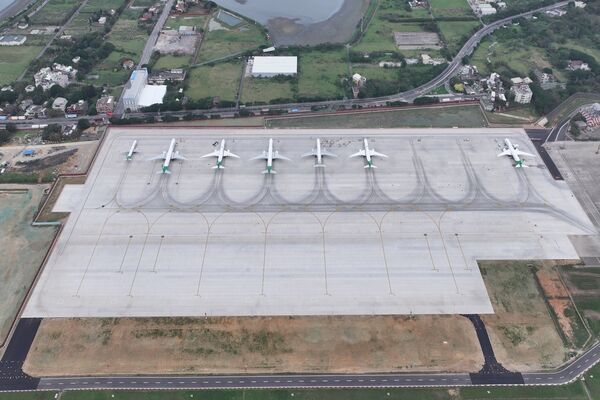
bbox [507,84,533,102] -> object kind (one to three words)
building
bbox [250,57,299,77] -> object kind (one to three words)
building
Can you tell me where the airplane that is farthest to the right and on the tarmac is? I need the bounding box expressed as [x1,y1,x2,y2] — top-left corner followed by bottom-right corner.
[496,138,535,168]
